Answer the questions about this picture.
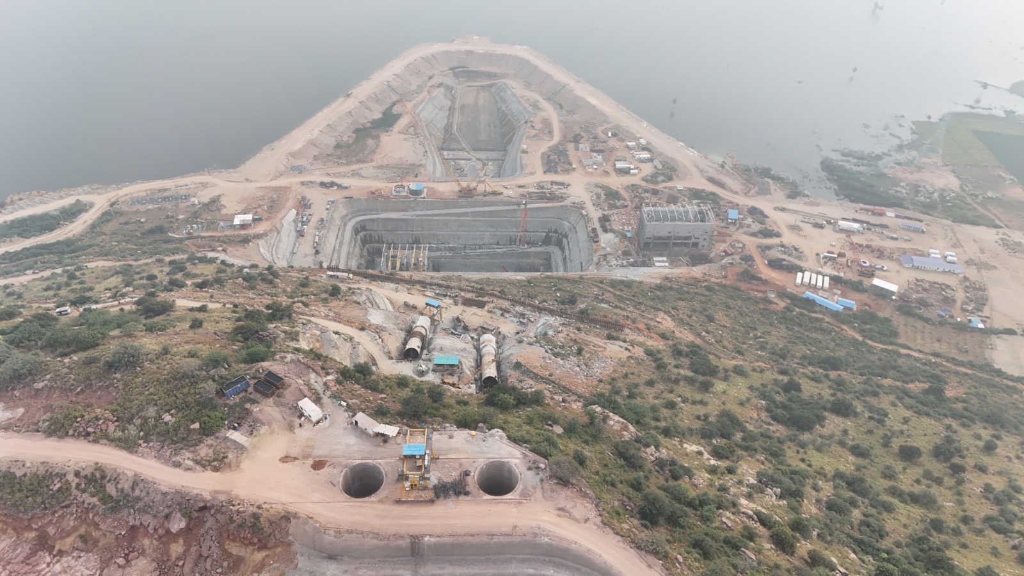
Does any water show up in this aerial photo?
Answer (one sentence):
Yes, there's water in this view.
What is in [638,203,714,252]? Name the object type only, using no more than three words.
building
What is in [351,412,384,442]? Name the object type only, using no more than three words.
building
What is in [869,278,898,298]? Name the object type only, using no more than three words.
shed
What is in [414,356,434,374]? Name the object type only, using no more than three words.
vehicle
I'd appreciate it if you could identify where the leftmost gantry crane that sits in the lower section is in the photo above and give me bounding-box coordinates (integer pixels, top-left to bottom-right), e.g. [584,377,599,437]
[395,428,439,502]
